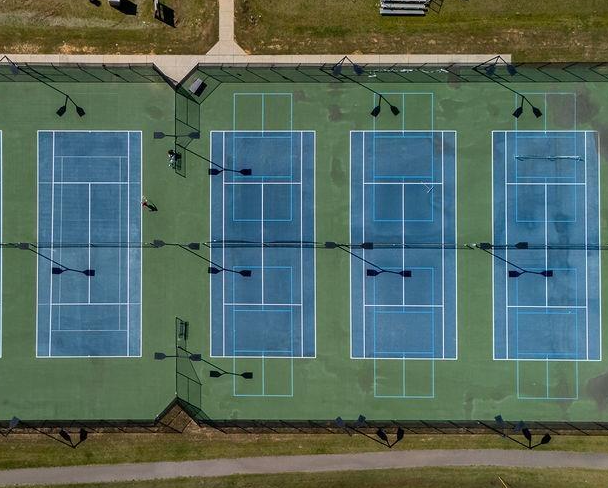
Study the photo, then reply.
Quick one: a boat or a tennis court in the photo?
tennis court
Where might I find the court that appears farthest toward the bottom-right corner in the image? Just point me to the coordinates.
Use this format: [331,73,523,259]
[517,268,578,398]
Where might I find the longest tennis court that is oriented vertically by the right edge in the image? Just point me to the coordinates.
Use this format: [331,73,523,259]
[492,131,601,361]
